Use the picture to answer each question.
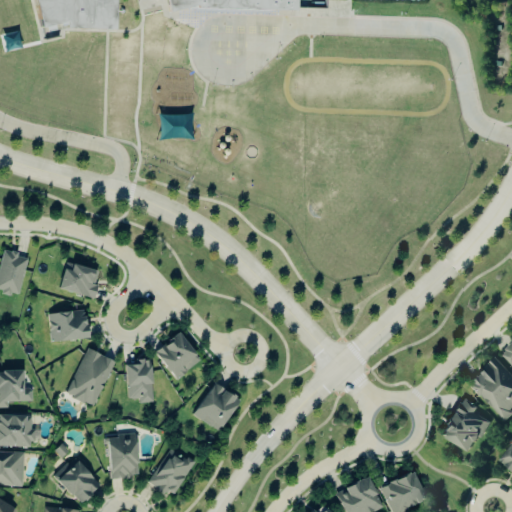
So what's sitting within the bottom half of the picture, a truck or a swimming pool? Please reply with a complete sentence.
Visible within the bottom half of the picture is a swimming pool.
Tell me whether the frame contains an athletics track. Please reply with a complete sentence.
Yes, I can see an athletics track in this picture.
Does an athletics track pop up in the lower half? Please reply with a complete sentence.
No, I see no athletics track in the lower half.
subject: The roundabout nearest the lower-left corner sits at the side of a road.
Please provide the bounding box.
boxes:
[230,330,269,379]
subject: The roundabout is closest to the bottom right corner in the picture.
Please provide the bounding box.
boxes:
[360,390,426,456]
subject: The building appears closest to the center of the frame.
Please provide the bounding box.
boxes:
[155,332,202,378]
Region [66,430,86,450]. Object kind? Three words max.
swimming pool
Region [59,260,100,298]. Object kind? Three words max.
house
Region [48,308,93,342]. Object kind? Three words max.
house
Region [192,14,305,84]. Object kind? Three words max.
sports court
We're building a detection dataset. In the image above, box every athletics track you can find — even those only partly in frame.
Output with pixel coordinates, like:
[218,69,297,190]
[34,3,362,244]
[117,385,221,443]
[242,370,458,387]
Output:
[284,57,450,114]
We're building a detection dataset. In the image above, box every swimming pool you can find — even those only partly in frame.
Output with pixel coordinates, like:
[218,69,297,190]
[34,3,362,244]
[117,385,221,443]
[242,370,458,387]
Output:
[66,430,86,450]
[60,396,78,418]
[26,457,38,477]
[40,418,54,439]
[140,434,160,456]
